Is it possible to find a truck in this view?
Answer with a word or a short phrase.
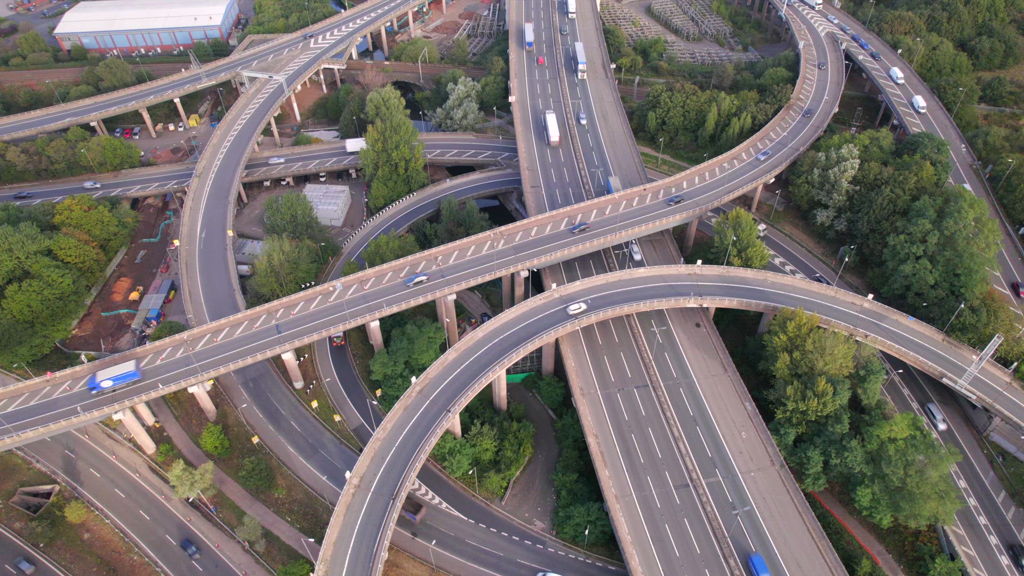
Yes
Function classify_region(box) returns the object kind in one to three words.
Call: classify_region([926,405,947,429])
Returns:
car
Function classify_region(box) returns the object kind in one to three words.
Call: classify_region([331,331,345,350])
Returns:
vehicle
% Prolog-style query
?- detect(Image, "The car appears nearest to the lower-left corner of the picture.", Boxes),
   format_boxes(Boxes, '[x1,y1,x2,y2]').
[13,555,36,573]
